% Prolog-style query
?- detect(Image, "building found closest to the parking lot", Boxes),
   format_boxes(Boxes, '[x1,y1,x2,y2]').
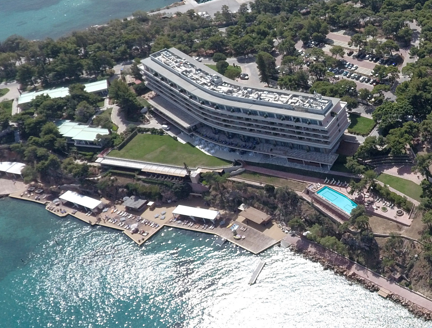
[137,48,350,169]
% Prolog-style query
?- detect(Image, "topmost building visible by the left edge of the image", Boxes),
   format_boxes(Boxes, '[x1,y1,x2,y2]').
[16,78,109,109]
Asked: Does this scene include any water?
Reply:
Yes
